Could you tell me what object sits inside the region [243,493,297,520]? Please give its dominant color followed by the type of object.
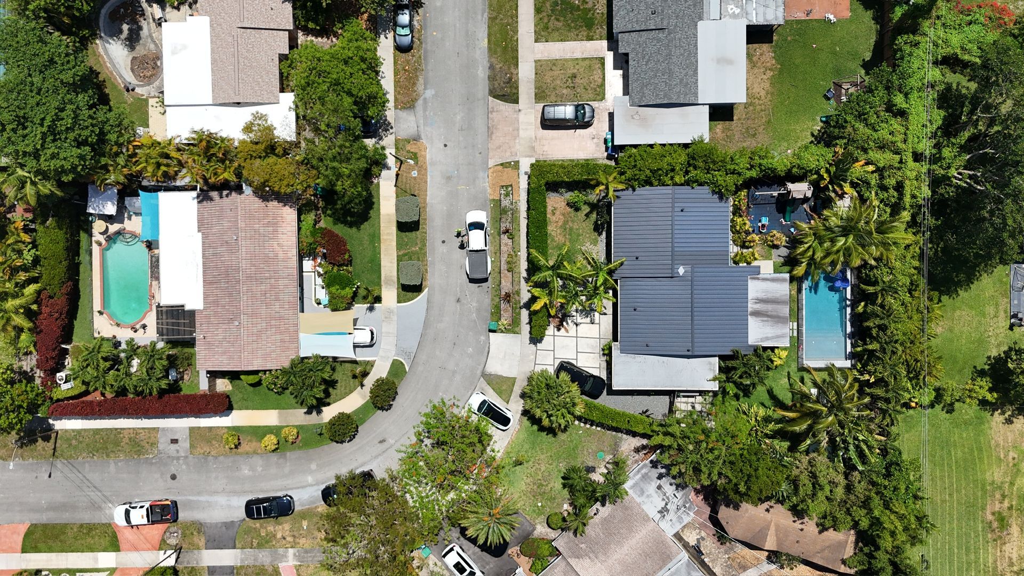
black car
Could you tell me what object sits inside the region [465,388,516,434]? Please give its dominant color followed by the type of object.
white car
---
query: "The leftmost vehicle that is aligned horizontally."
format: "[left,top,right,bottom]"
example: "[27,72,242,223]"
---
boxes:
[114,497,182,528]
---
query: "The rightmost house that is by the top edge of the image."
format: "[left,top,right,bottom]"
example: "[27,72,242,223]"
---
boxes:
[613,0,747,145]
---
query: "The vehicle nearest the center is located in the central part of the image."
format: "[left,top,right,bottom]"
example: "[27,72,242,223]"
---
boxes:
[463,212,490,280]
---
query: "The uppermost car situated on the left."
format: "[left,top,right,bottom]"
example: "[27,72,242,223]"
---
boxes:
[391,0,416,54]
